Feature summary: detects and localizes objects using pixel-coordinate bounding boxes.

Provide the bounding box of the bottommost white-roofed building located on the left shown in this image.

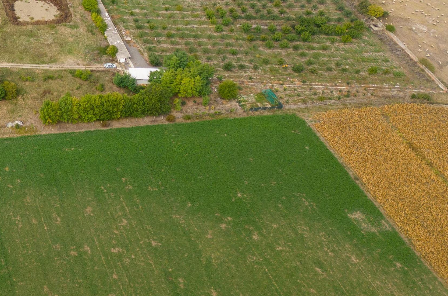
[132,66,165,85]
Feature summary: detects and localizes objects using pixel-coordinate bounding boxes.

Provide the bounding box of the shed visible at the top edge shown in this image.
[98,0,131,64]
